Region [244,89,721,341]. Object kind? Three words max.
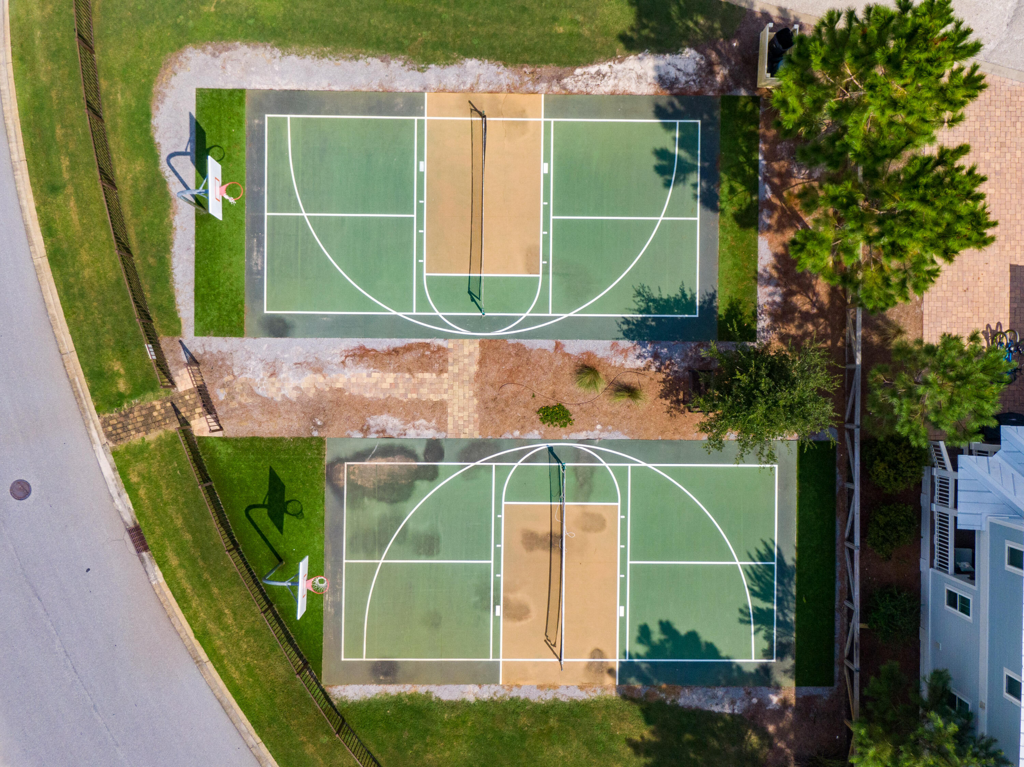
sports court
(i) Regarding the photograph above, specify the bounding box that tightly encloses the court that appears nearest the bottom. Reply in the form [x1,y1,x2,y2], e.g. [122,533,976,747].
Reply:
[322,438,797,687]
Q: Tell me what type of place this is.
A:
sports ground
